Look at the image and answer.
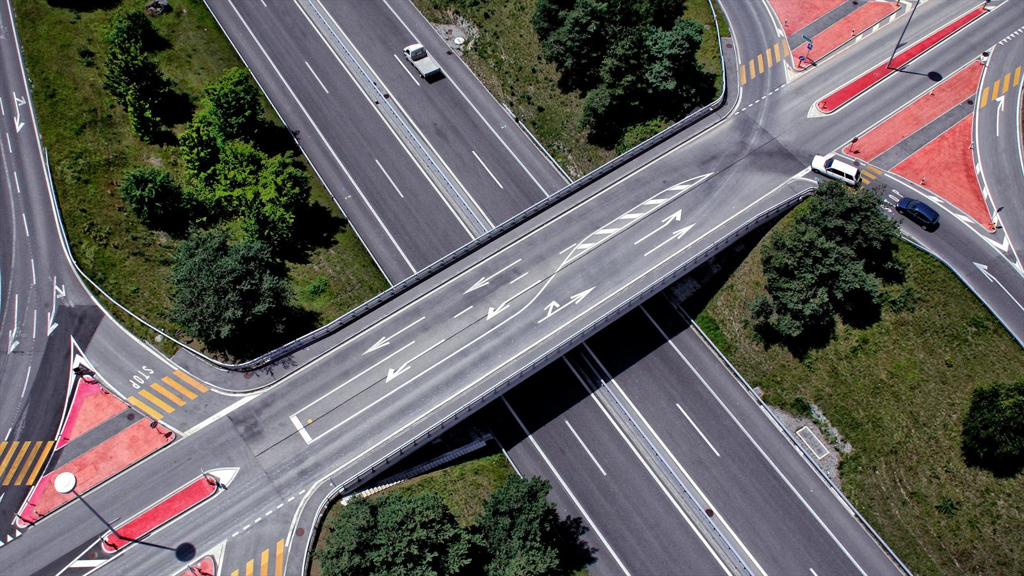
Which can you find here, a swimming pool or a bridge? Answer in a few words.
bridge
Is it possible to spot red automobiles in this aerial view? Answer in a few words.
No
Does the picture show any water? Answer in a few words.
No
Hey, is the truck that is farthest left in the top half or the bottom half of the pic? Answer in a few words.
top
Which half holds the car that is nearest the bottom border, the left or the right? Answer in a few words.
right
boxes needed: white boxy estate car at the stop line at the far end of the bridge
[810,155,861,189]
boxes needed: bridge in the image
[271,106,807,492]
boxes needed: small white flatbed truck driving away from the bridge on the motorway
[405,46,441,81]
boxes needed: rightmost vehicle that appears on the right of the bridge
[893,198,941,233]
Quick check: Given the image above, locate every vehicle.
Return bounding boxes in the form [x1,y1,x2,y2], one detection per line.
[810,155,861,189]
[405,46,441,81]
[893,198,941,233]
